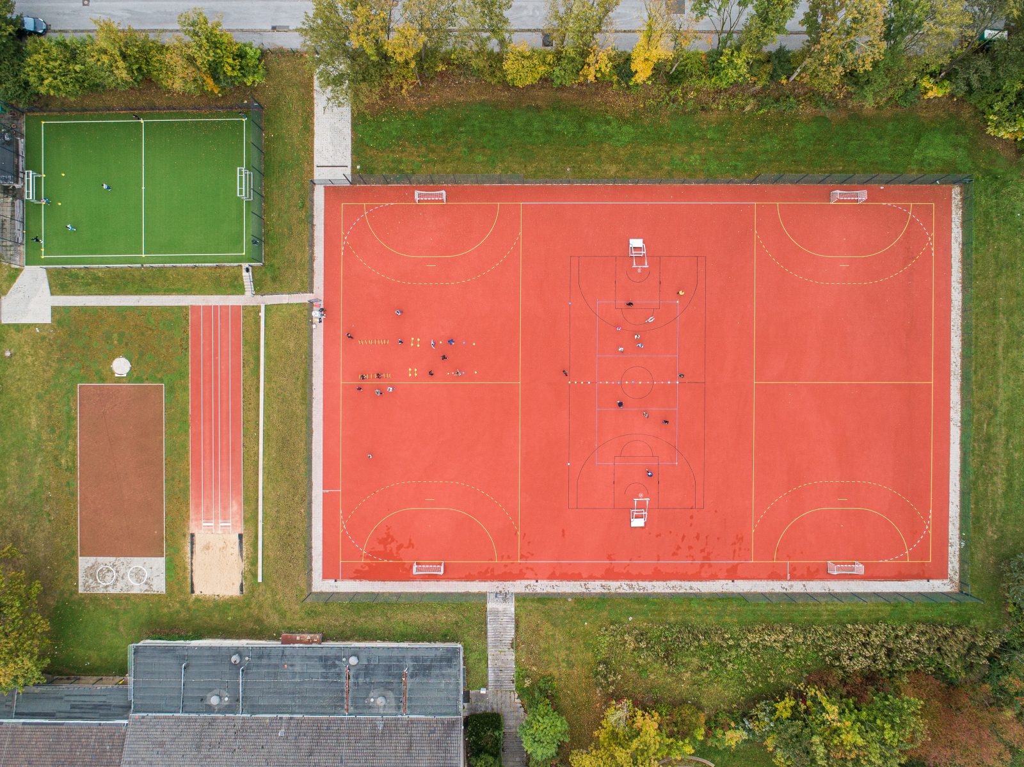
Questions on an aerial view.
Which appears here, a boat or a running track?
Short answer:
running track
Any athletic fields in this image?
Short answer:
Yes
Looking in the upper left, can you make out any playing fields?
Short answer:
Yes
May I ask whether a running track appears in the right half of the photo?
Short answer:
No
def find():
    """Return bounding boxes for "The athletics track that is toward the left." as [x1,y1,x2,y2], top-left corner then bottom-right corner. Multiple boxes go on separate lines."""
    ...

[189,306,244,533]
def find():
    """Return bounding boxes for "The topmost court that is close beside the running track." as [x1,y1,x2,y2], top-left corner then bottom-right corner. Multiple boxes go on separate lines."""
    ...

[322,184,953,580]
